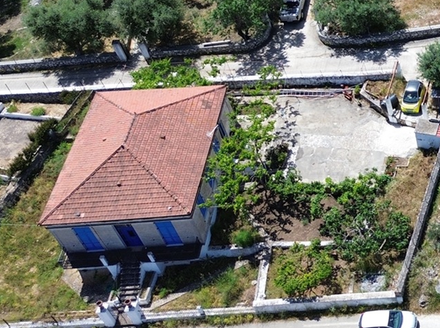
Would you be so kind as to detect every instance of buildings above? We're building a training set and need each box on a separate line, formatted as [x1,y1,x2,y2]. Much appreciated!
[415,117,440,155]
[38,83,231,320]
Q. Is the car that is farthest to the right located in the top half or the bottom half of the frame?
top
